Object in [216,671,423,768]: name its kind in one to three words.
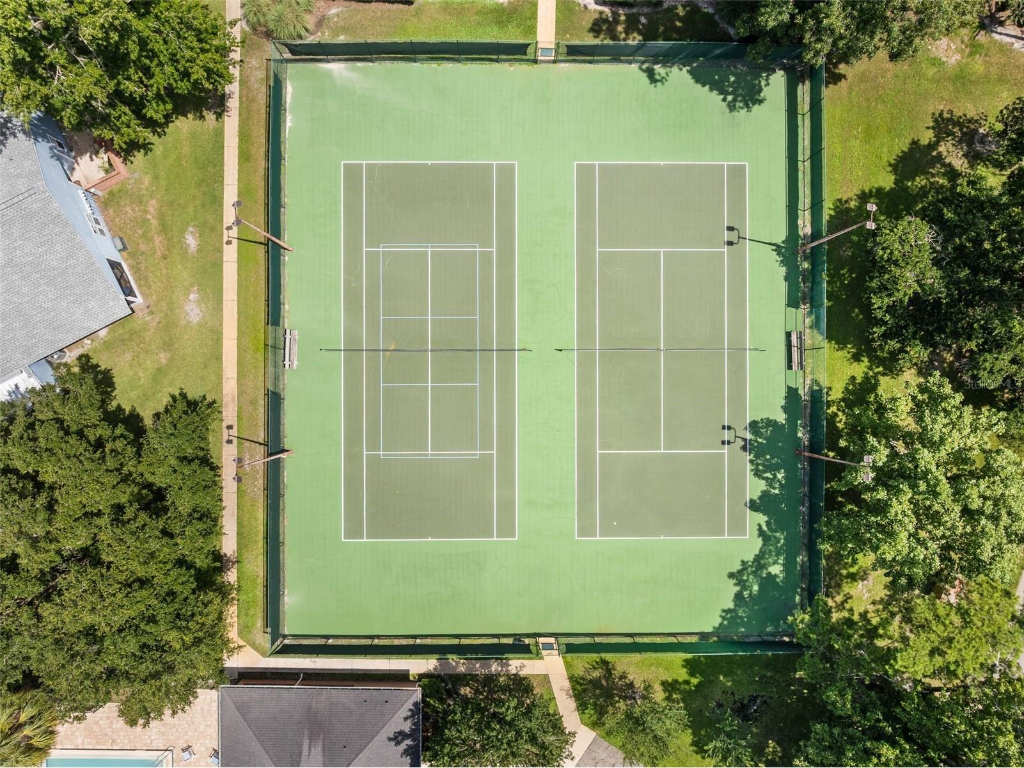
building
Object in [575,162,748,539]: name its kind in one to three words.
tennis court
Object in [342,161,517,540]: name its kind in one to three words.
tennis court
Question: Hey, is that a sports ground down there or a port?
sports ground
